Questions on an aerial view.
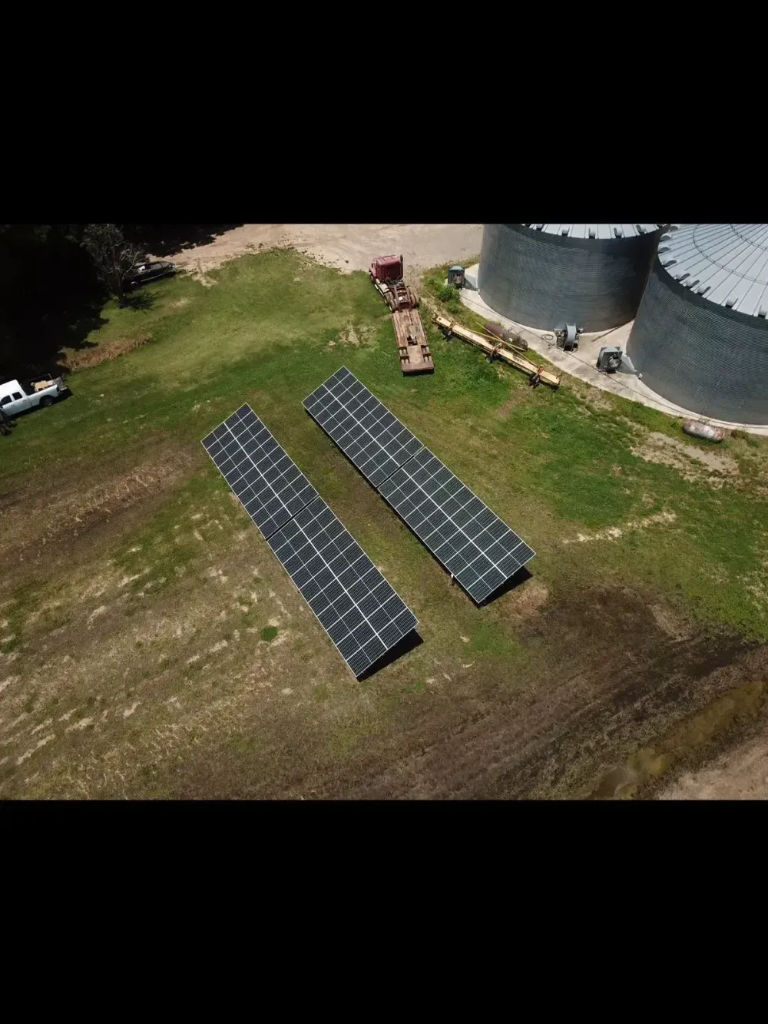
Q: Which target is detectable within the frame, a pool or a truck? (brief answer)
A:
truck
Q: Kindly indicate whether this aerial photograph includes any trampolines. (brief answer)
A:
No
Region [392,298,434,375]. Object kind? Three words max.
trailer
